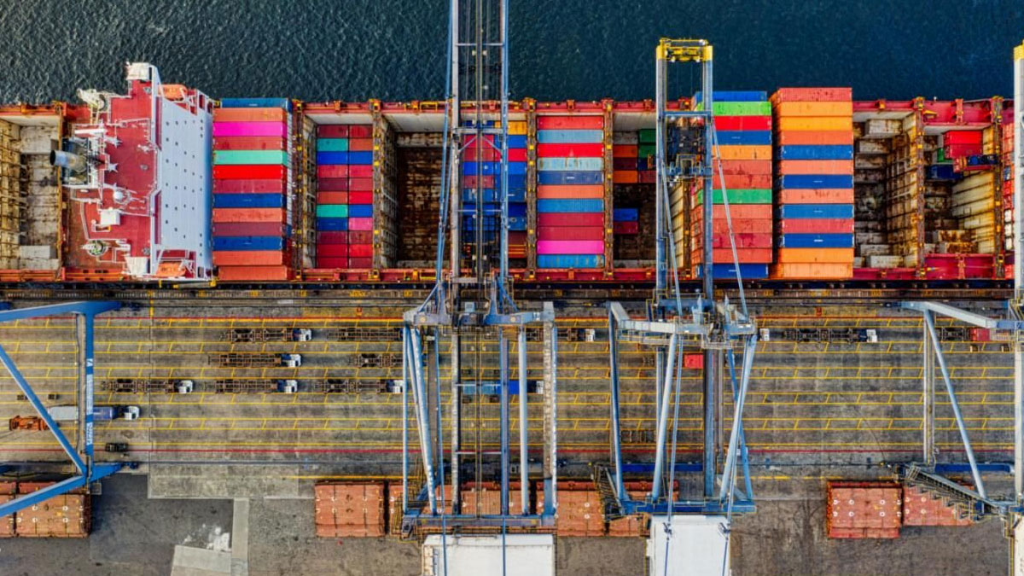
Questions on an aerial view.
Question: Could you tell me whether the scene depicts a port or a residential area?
port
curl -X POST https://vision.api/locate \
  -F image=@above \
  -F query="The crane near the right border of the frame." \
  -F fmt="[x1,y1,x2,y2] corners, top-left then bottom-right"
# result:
[882,41,1024,576]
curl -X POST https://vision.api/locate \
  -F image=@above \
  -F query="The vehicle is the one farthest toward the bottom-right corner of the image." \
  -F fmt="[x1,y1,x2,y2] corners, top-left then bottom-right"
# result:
[937,328,1010,342]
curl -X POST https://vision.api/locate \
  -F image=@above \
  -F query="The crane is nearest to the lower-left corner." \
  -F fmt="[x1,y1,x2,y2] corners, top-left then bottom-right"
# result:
[0,302,145,520]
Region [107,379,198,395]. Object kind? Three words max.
vehicle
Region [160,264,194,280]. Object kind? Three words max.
boat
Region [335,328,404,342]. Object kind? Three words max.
vehicle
